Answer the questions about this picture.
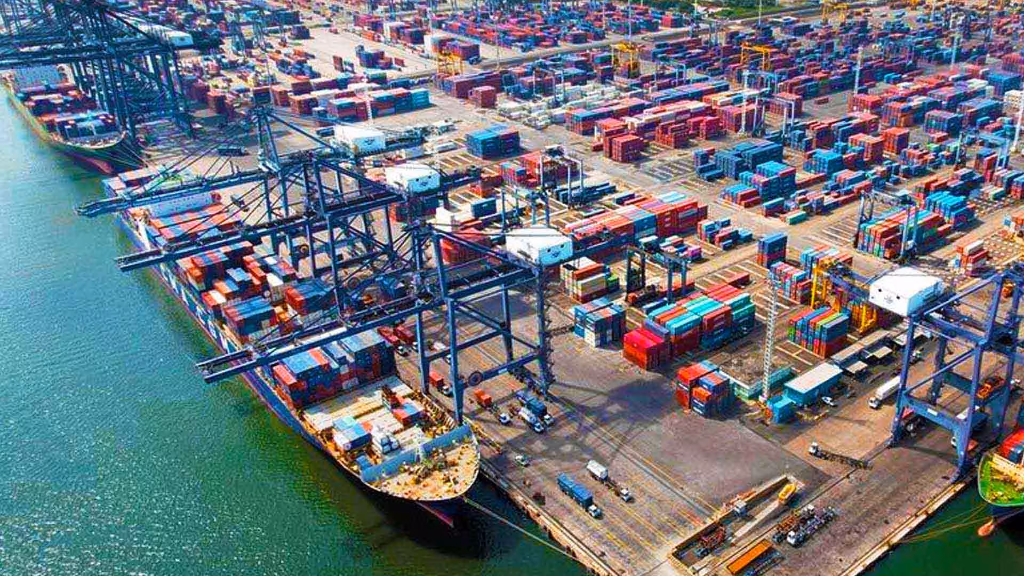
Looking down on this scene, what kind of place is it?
port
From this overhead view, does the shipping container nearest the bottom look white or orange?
orange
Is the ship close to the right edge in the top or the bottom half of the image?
bottom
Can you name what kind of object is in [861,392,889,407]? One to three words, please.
vehicle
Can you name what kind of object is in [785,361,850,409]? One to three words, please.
building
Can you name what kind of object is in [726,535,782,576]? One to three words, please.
shipping container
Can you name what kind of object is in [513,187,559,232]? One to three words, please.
container crane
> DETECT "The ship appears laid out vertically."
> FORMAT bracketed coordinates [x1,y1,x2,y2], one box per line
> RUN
[972,415,1024,545]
